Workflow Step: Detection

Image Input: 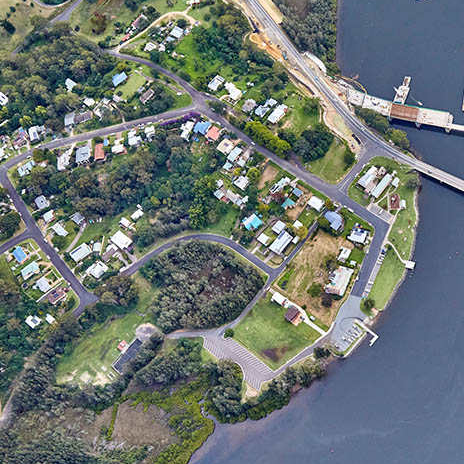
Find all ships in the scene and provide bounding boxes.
[395,83,410,104]
[403,76,412,88]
